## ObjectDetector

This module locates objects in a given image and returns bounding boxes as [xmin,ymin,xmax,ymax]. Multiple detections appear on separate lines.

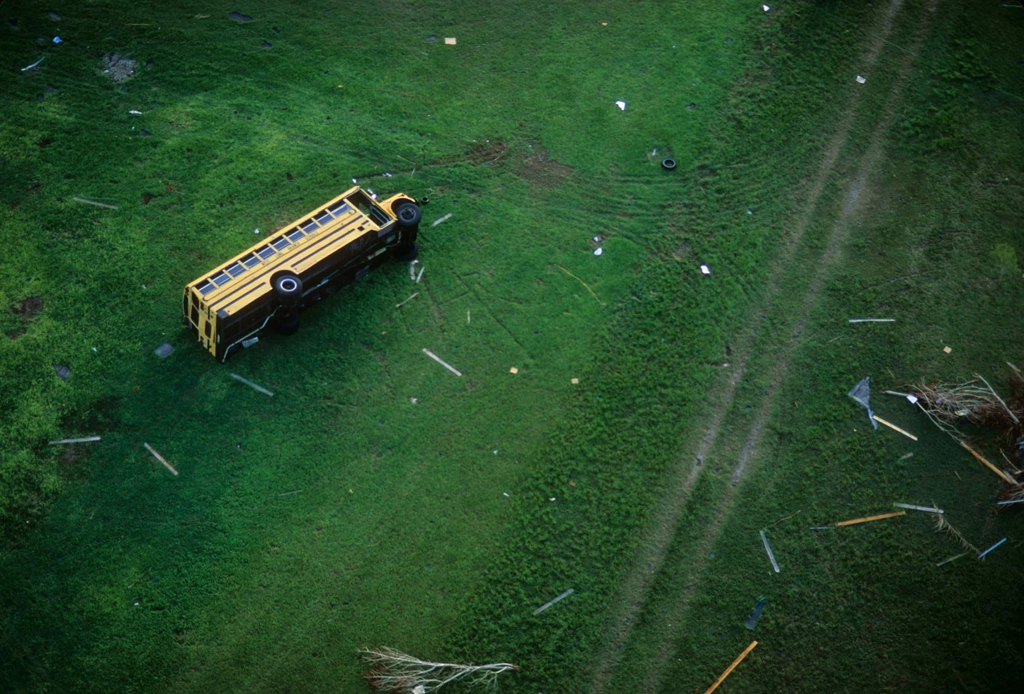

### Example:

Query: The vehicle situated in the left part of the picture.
[182,185,424,363]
